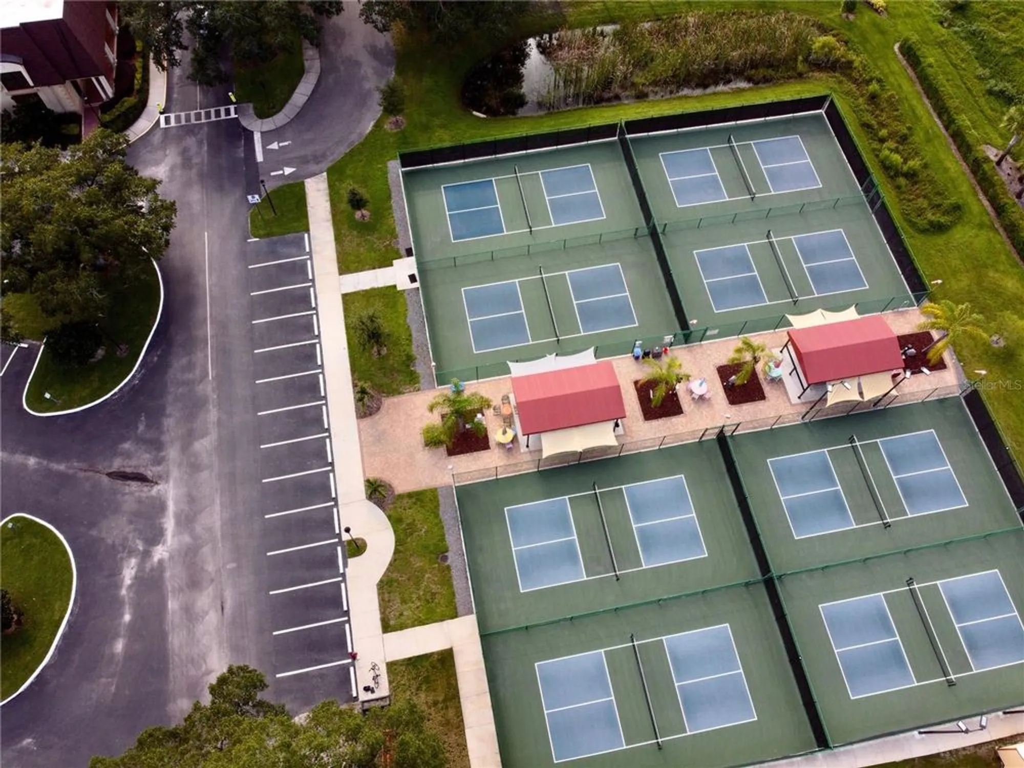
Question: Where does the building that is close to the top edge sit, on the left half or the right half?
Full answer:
The building that is close to the top edge sits on the left side.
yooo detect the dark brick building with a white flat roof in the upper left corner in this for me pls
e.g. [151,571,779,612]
[0,0,117,112]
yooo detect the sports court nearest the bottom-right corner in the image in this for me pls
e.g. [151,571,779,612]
[763,529,1024,750]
